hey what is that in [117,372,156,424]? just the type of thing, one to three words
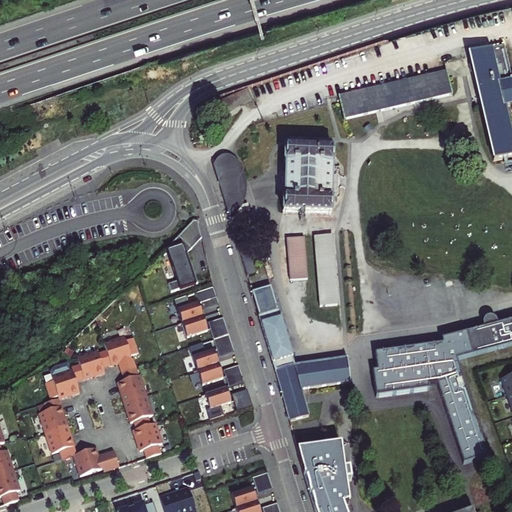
house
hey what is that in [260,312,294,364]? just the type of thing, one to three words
building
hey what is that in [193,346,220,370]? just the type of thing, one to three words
house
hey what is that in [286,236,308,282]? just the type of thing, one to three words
building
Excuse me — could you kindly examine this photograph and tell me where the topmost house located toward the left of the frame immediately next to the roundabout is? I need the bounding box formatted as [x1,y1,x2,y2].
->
[178,220,202,254]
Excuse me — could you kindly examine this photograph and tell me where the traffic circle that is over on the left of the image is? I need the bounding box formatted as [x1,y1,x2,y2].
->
[132,189,174,230]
